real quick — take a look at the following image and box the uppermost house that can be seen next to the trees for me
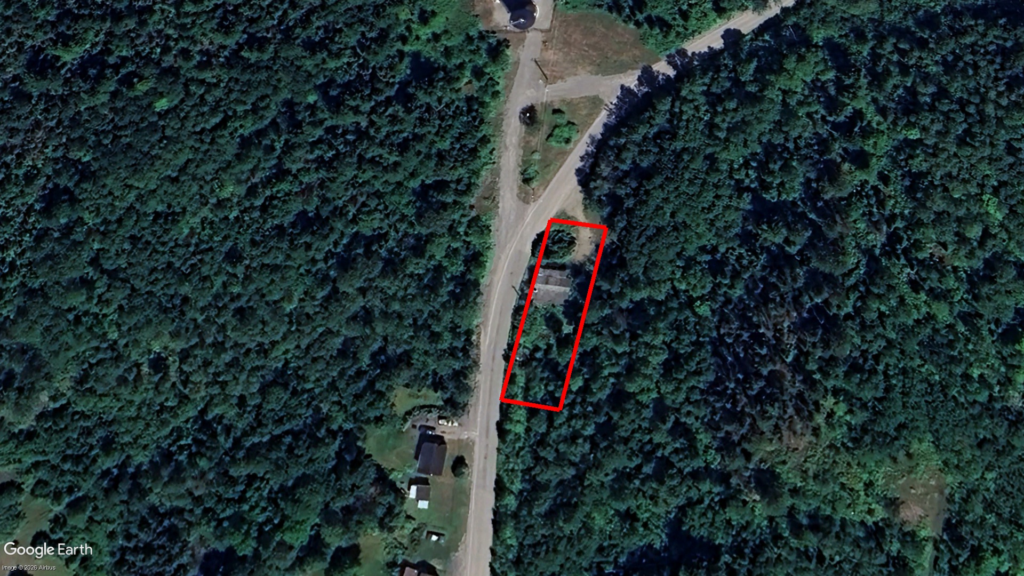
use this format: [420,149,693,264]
[534,267,571,305]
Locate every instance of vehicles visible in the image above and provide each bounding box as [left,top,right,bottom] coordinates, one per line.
[420,426,436,434]
[438,419,457,426]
